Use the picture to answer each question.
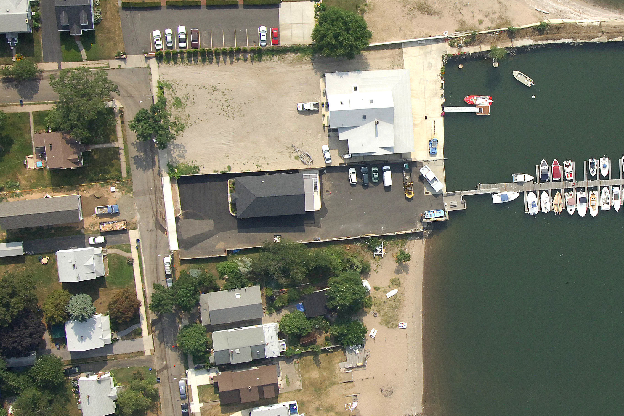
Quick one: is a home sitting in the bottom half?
Yes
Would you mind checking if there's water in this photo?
Yes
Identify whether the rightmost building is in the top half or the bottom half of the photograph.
top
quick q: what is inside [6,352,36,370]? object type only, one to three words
shed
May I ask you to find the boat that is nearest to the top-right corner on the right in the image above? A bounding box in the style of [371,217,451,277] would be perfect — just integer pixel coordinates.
[513,72,534,88]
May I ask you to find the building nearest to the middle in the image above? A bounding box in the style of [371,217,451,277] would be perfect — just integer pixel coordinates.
[229,173,319,217]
